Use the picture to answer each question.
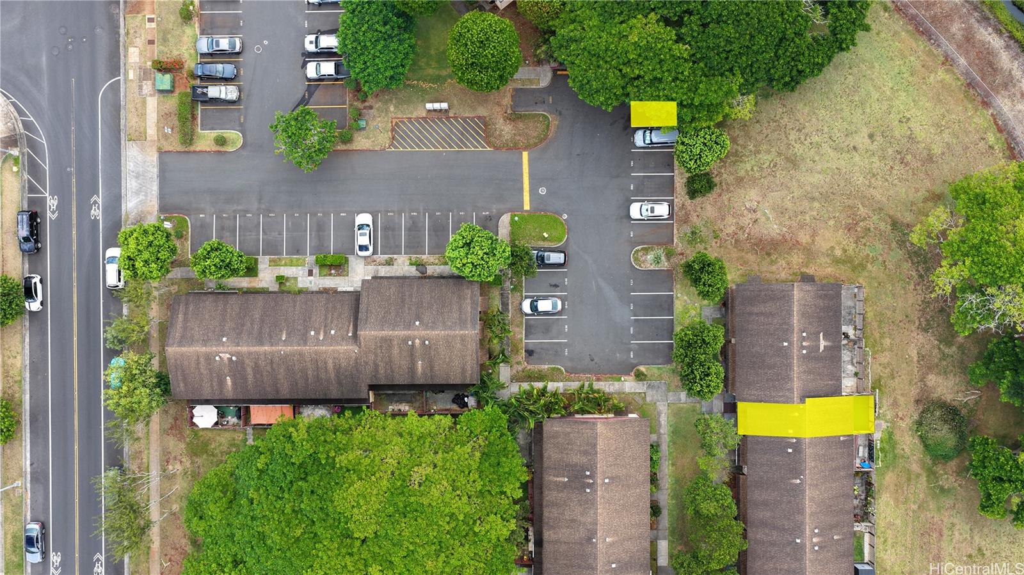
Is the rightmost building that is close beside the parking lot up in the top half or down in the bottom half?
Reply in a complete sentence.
The rightmost building that is close beside the parking lot sits in the bottom half of the picture.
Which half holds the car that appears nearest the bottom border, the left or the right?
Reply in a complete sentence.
It is on the left.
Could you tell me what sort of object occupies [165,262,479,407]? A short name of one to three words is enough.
building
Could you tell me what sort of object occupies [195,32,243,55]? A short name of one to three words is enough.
car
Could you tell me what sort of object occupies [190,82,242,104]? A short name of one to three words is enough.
truck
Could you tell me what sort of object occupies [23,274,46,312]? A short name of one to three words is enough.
car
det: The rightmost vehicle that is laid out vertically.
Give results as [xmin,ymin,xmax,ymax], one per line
[353,212,374,257]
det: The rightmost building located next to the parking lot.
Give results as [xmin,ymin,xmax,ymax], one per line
[725,277,853,575]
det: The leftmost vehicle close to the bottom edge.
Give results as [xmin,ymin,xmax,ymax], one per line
[22,520,47,563]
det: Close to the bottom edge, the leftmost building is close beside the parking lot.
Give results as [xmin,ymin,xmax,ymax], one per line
[532,411,650,575]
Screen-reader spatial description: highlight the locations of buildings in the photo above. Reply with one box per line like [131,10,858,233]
[496,0,516,14]
[725,277,853,575]
[532,411,650,575]
[165,262,479,407]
